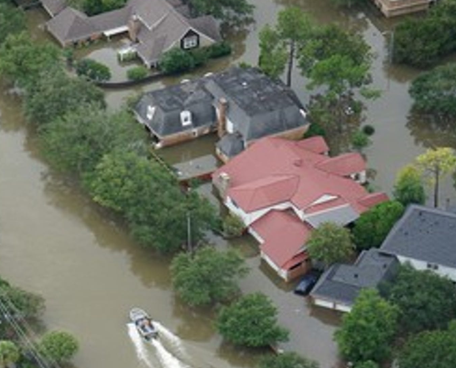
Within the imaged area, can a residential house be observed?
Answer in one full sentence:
Yes, this view includes a residential house.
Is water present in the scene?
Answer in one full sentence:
Yes, water can be seen from above here.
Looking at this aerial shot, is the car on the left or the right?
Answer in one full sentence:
The car sits on the right side.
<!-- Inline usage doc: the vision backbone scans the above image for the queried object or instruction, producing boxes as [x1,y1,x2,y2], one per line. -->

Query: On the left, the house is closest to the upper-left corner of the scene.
[42,0,224,74]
